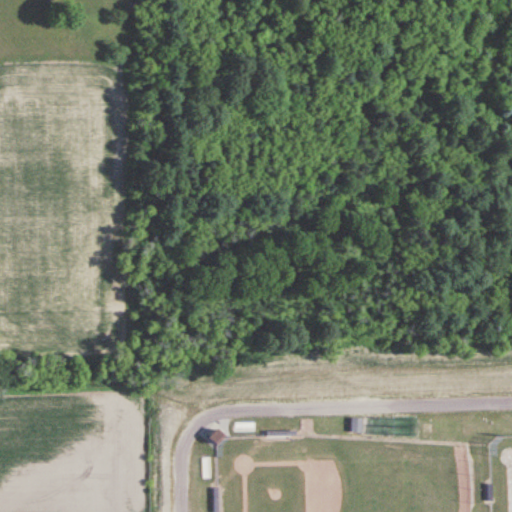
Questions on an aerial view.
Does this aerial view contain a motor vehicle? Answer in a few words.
No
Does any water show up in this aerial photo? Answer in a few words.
No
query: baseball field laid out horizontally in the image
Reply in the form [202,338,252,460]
[218,440,472,512]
